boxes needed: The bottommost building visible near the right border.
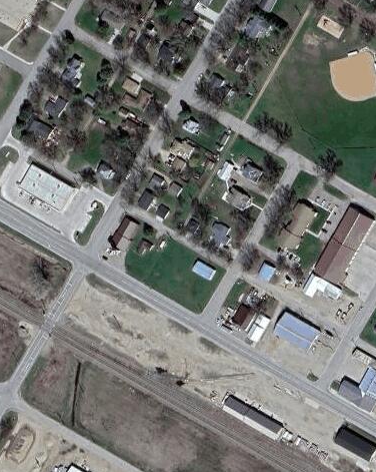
[334,425,376,462]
